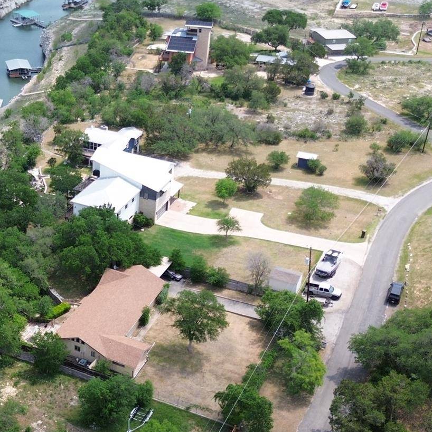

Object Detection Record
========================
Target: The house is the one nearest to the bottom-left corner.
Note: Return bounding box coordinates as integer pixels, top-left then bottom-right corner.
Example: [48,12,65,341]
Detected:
[56,261,167,382]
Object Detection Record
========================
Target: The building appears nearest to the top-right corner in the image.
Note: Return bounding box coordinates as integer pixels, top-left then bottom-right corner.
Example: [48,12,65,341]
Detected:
[306,26,356,59]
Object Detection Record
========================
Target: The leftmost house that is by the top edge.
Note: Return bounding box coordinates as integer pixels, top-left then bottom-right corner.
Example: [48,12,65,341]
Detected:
[156,20,213,74]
